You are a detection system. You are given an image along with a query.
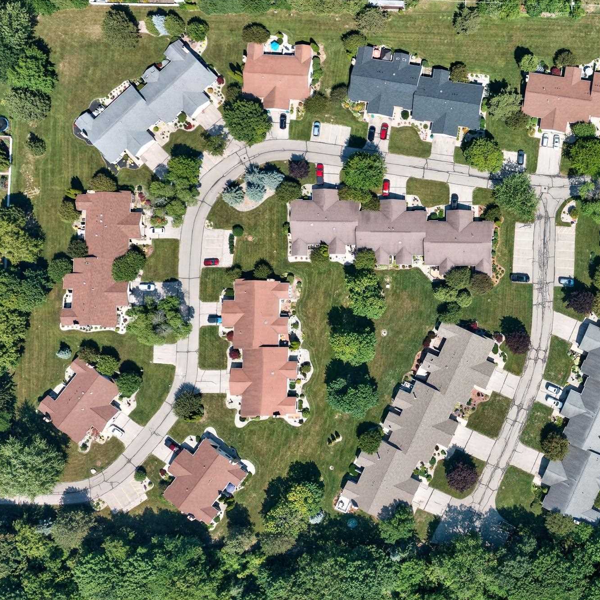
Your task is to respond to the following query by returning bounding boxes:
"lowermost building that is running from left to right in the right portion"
[286,188,497,277]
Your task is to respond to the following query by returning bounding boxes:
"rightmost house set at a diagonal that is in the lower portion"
[341,322,497,520]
